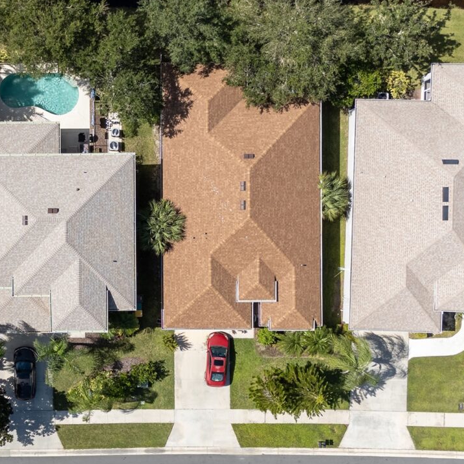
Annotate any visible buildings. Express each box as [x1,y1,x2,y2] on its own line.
[161,62,323,332]
[340,62,464,333]
[0,120,137,334]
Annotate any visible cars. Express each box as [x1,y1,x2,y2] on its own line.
[204,332,233,387]
[11,346,39,400]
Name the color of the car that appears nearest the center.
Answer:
red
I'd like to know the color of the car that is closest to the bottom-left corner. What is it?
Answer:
black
